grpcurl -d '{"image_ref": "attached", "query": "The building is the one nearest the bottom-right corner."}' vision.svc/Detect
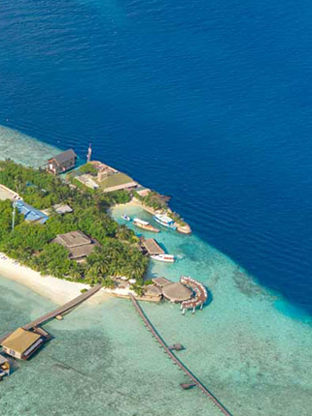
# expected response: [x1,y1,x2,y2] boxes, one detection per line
[161,284,193,310]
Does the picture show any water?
Yes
